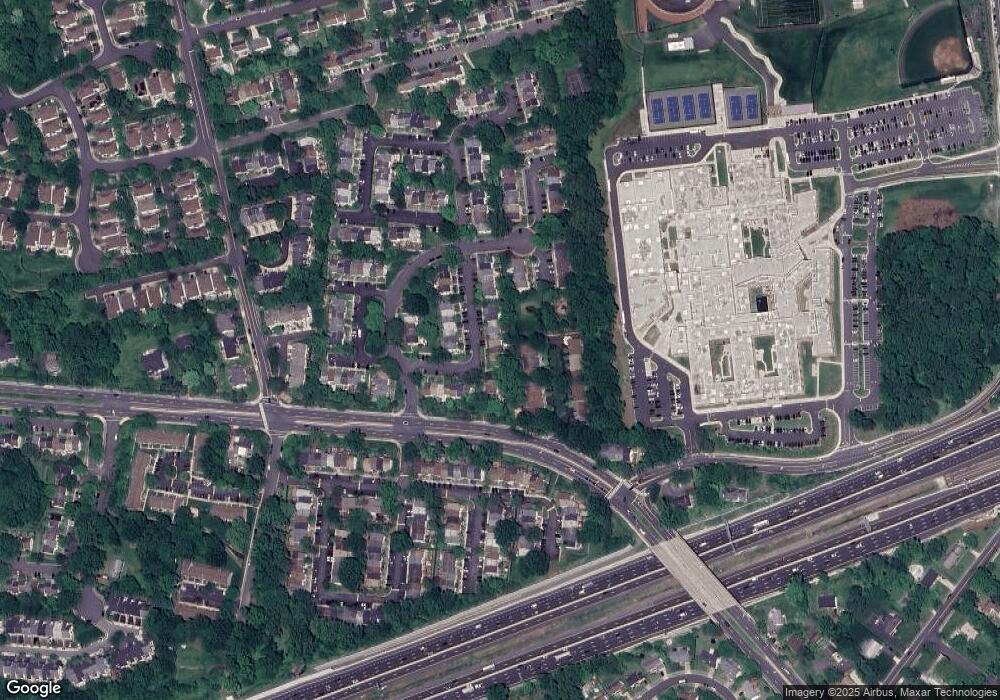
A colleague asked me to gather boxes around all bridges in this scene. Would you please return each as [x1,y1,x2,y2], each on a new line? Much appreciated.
[648,527,737,618]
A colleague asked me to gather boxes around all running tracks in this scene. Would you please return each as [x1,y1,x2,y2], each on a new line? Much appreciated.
[636,0,715,32]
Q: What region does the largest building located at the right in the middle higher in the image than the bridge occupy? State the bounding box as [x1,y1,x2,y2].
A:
[624,148,842,404]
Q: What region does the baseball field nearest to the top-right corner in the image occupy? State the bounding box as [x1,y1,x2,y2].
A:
[898,0,974,87]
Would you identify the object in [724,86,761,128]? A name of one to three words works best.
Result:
tennis court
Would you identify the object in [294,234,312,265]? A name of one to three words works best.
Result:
building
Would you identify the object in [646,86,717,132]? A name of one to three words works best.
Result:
tennis court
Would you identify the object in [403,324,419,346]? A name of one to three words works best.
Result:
house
